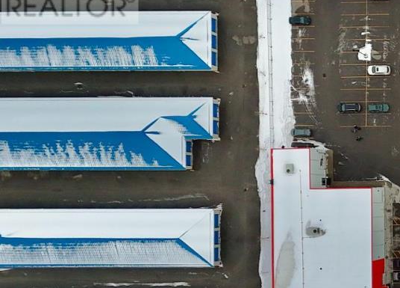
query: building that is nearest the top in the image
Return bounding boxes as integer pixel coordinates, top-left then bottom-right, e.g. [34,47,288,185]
[0,10,217,70]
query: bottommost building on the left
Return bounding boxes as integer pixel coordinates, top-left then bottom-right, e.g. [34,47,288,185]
[0,208,219,268]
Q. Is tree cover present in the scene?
No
